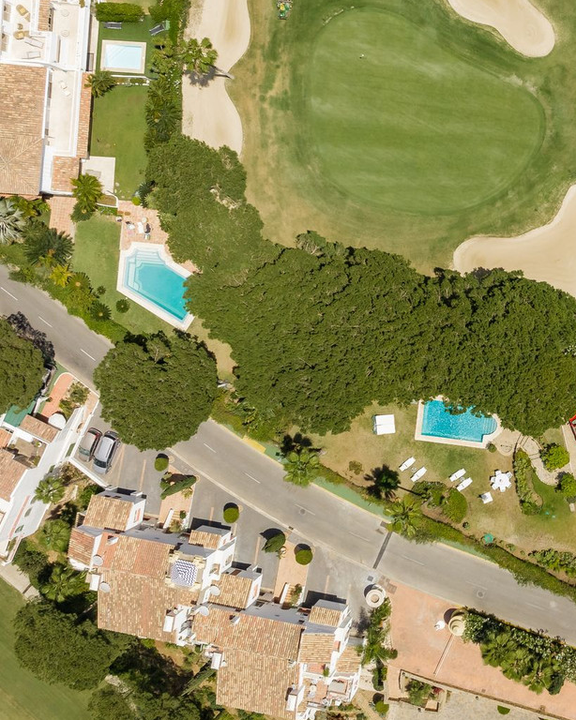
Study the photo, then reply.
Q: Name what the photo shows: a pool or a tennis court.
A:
pool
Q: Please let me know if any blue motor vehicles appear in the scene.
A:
No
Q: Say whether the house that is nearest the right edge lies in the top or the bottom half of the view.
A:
bottom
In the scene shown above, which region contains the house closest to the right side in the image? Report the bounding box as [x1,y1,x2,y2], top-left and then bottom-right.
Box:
[297,594,367,720]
